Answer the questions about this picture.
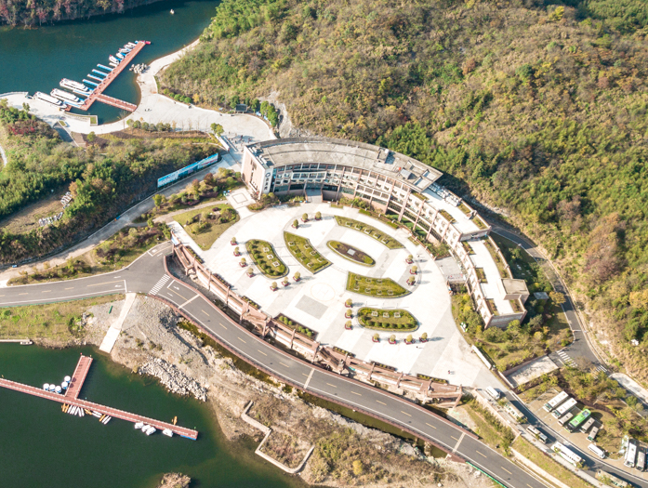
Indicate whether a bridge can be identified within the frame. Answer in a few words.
Yes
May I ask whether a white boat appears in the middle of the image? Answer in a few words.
No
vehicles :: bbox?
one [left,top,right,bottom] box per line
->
[620,441,637,469]
[560,410,591,435]
[584,444,606,461]
[482,387,502,404]
[576,417,597,436]
[592,471,628,488]
[553,412,574,428]
[523,425,549,447]
[538,391,570,415]
[547,398,578,422]
[632,451,647,474]
[547,442,585,472]
[583,427,600,444]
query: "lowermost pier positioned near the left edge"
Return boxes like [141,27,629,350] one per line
[0,355,198,442]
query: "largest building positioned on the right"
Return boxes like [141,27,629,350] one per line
[243,137,541,347]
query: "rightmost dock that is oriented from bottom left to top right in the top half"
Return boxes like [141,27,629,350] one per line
[80,40,146,111]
